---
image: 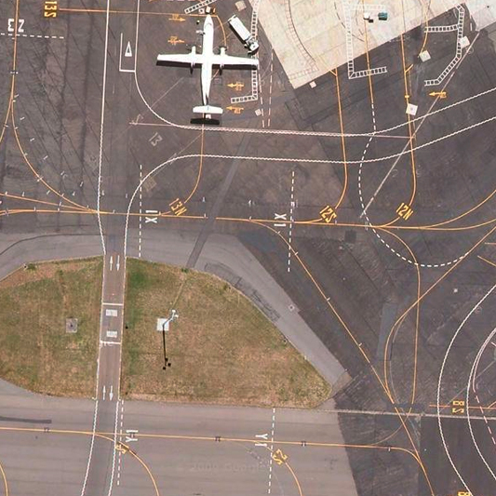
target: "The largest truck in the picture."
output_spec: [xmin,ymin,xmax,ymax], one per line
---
[229,14,259,50]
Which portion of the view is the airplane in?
top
